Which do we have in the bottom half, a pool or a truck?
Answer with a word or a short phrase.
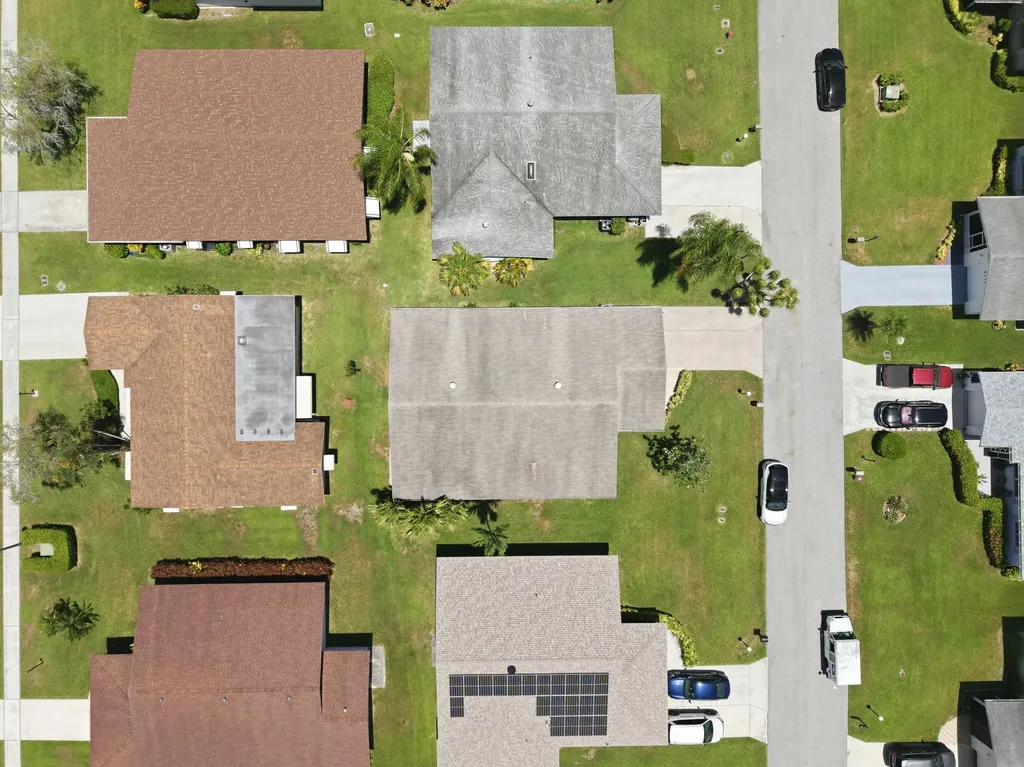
truck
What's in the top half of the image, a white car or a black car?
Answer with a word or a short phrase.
black car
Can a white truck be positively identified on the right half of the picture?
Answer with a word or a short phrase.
Yes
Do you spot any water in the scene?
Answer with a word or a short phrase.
No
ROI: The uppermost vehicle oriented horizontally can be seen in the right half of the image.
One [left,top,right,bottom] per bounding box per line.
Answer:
[873,359,952,393]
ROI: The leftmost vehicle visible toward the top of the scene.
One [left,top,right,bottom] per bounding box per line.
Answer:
[814,48,849,114]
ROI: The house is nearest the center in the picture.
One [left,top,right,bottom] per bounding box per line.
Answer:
[387,307,666,500]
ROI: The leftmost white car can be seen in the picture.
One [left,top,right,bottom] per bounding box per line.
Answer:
[667,712,724,747]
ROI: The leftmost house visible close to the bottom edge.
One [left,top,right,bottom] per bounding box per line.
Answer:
[90,580,370,767]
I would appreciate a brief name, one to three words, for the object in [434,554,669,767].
house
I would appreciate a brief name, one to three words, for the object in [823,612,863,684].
truck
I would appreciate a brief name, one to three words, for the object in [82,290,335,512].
house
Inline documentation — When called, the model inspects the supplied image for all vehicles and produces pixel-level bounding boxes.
[873,359,952,393]
[823,612,863,684]
[871,399,947,431]
[667,669,730,702]
[757,461,791,525]
[667,712,724,747]
[880,741,956,767]
[814,48,849,114]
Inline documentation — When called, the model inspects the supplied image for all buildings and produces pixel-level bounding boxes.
[428,27,662,260]
[90,580,370,767]
[434,554,669,767]
[387,307,666,500]
[82,290,335,512]
[961,0,1024,89]
[964,142,1024,326]
[971,628,1024,767]
[86,49,380,252]
[965,371,1024,579]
